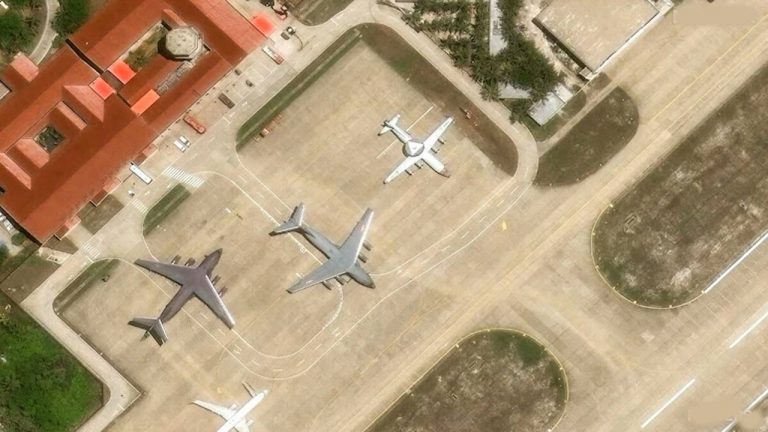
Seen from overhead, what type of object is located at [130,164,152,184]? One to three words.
bus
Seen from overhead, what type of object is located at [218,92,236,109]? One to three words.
vehicle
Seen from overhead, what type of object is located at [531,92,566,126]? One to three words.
shed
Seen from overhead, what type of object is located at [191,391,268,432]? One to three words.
airplane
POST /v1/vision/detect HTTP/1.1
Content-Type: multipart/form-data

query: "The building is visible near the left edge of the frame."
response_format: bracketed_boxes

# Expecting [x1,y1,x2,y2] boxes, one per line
[0,0,272,244]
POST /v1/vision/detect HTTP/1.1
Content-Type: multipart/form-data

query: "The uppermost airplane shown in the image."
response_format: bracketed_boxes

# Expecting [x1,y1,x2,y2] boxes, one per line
[374,116,454,184]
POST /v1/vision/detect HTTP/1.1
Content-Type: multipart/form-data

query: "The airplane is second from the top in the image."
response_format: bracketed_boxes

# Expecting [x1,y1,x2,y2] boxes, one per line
[271,202,375,296]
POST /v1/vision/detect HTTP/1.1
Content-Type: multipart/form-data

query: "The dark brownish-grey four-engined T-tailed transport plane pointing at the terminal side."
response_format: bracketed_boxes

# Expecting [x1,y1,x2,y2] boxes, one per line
[124,250,232,347]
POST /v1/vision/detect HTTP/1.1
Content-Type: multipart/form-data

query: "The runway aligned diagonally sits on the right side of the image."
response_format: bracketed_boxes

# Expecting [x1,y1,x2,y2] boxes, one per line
[552,230,768,432]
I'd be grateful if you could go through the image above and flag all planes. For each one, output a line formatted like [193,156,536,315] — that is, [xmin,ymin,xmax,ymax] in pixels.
[271,202,375,296]
[124,250,232,347]
[374,116,454,184]
[191,391,268,432]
